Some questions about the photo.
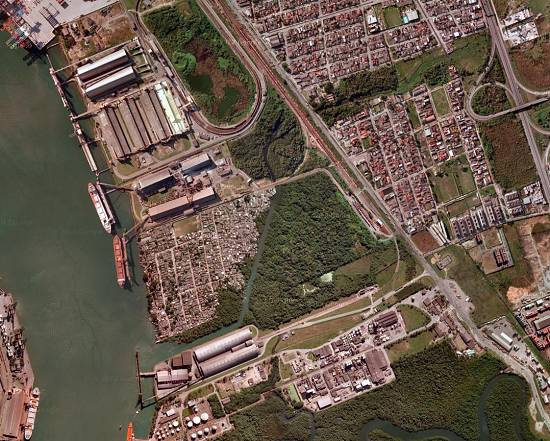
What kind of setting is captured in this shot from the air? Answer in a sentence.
It's a port.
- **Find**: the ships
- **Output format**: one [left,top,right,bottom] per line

[86,182,113,234]
[25,387,39,440]
[126,421,133,441]
[113,235,127,289]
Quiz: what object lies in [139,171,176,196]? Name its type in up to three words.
shed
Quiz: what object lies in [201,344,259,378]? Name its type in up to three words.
shed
